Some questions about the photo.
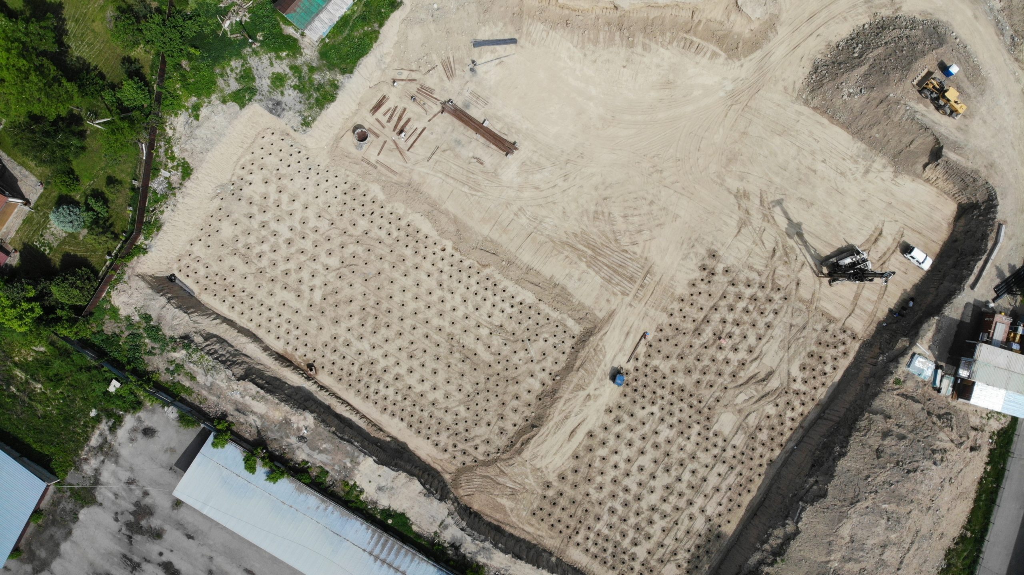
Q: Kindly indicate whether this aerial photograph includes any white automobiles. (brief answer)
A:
Yes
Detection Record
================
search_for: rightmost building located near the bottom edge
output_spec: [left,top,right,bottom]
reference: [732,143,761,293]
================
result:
[172,440,469,575]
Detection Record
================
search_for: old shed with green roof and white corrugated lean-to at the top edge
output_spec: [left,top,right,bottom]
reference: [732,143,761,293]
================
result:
[273,0,359,47]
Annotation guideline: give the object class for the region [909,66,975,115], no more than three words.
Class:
work vehicle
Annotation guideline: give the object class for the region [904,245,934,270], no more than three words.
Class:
car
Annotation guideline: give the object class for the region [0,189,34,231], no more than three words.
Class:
house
